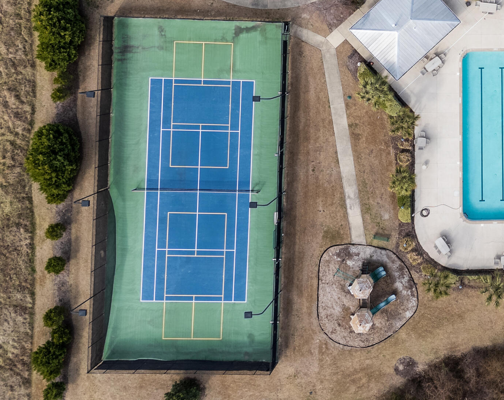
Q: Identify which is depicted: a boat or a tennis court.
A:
tennis court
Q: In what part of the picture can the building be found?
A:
top right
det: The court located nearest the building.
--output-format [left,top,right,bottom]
[103,15,292,362]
